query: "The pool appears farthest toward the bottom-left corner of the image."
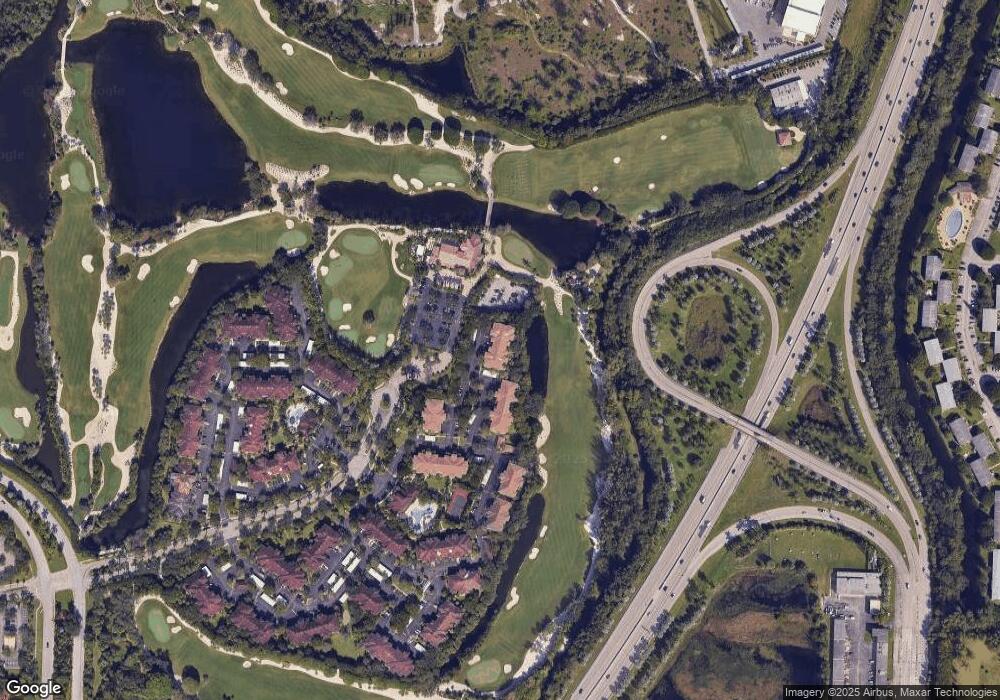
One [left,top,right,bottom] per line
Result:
[284,402,309,432]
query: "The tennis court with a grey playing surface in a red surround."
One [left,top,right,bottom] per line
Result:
[444,485,472,516]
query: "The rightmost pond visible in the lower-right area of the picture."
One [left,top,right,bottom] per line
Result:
[779,647,823,699]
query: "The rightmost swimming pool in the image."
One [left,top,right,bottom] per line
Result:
[938,194,979,248]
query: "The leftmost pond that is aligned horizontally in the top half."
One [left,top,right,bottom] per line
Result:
[373,43,479,100]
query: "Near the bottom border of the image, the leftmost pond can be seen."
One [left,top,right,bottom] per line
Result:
[440,493,545,675]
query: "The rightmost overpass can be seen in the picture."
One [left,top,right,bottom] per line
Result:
[678,388,857,485]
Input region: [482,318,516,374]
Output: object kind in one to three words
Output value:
building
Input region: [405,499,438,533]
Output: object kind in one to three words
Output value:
swimming pool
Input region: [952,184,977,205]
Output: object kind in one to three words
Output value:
building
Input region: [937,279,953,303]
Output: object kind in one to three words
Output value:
house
